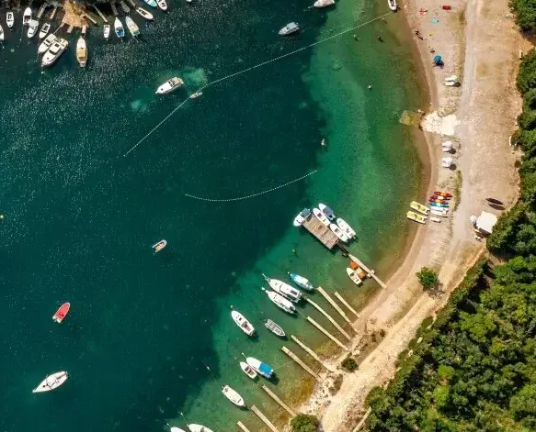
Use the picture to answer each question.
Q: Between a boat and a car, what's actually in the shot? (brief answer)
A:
boat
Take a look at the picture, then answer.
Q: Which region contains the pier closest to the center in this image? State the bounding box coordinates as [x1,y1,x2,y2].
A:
[303,213,339,249]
